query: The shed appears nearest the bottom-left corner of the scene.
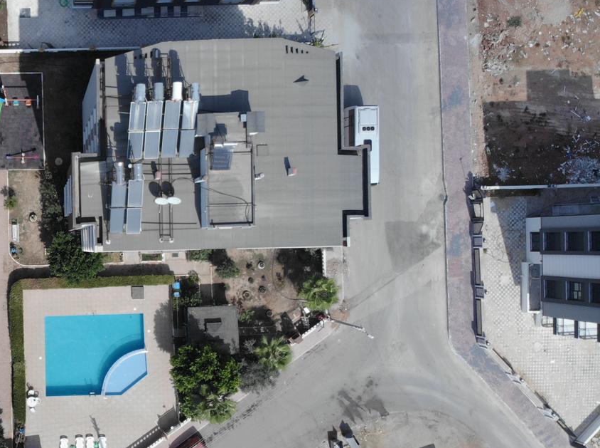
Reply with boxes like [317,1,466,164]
[184,306,238,354]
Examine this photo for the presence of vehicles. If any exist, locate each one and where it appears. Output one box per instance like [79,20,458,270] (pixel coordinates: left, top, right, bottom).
[177,435,209,448]
[346,109,379,187]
